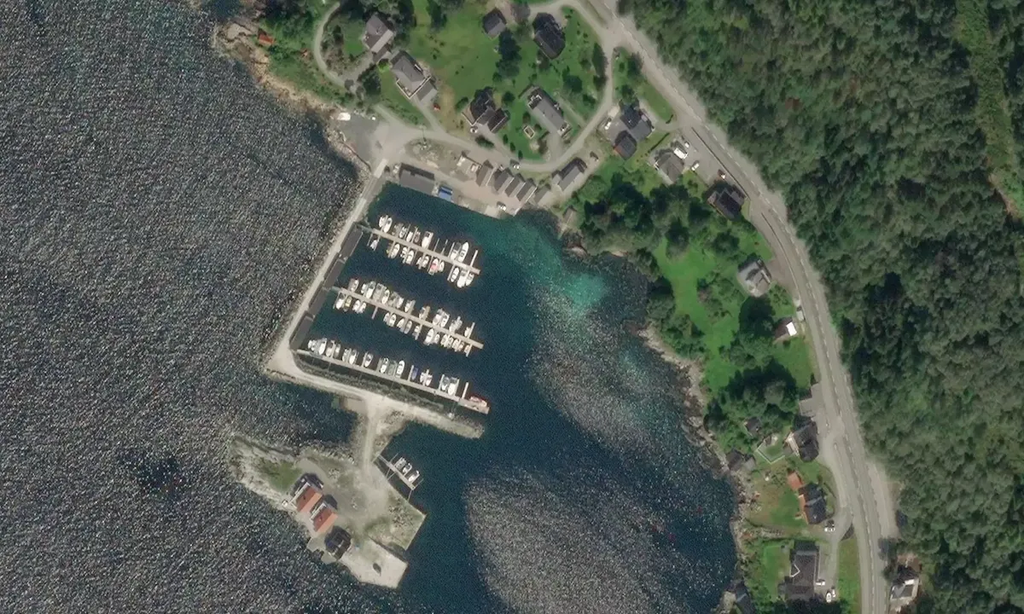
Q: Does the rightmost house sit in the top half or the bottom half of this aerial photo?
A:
bottom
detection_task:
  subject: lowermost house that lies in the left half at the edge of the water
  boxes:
[324,530,351,560]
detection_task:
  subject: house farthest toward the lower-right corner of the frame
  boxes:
[890,578,919,603]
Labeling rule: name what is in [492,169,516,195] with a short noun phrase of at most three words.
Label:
building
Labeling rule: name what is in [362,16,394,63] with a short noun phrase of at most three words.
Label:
house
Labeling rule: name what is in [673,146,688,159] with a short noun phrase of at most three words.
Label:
vehicle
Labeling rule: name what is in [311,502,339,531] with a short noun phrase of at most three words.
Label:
house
